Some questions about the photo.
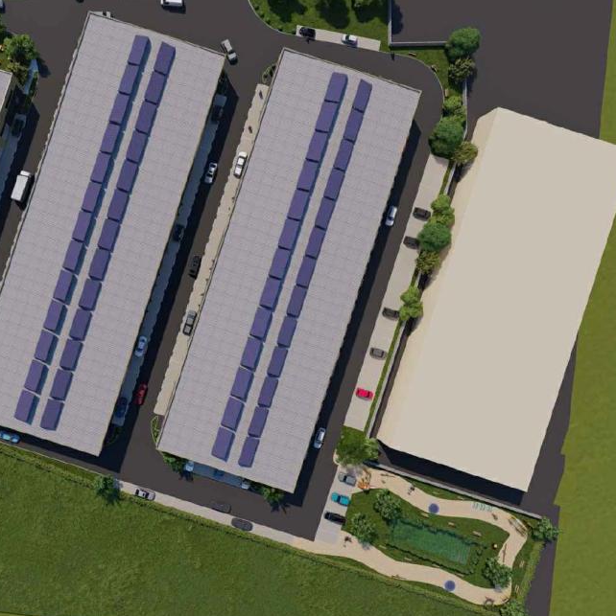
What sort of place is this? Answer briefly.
industrial area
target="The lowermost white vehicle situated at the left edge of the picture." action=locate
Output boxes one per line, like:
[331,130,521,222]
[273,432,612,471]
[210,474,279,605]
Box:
[12,173,32,205]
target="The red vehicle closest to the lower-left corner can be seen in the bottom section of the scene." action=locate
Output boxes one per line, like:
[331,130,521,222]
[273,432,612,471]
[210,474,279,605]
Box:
[135,382,149,405]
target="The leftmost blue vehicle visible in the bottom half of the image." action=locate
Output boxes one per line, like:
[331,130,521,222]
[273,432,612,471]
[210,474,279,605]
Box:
[0,430,20,443]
